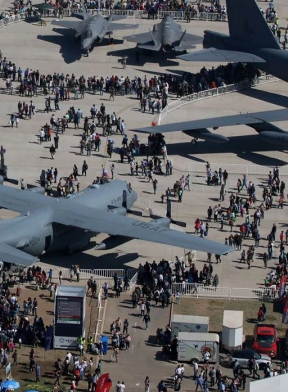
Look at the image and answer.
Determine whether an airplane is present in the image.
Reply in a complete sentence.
Yes, I can see an airplane in this picture.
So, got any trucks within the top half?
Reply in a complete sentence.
No, no truck can be made out within the top half.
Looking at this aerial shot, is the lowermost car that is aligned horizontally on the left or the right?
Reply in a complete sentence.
It is on the right.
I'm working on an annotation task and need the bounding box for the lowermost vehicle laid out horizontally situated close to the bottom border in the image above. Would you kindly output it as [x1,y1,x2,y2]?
[226,351,275,375]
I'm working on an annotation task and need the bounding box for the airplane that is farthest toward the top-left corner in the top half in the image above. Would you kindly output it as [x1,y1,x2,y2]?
[53,0,139,54]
